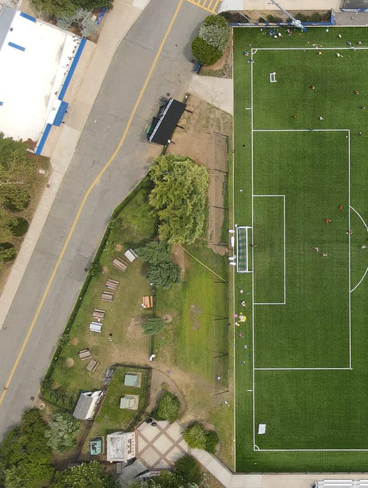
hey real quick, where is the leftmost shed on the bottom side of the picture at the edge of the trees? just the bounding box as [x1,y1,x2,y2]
[64,392,100,424]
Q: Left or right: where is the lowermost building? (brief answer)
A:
left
